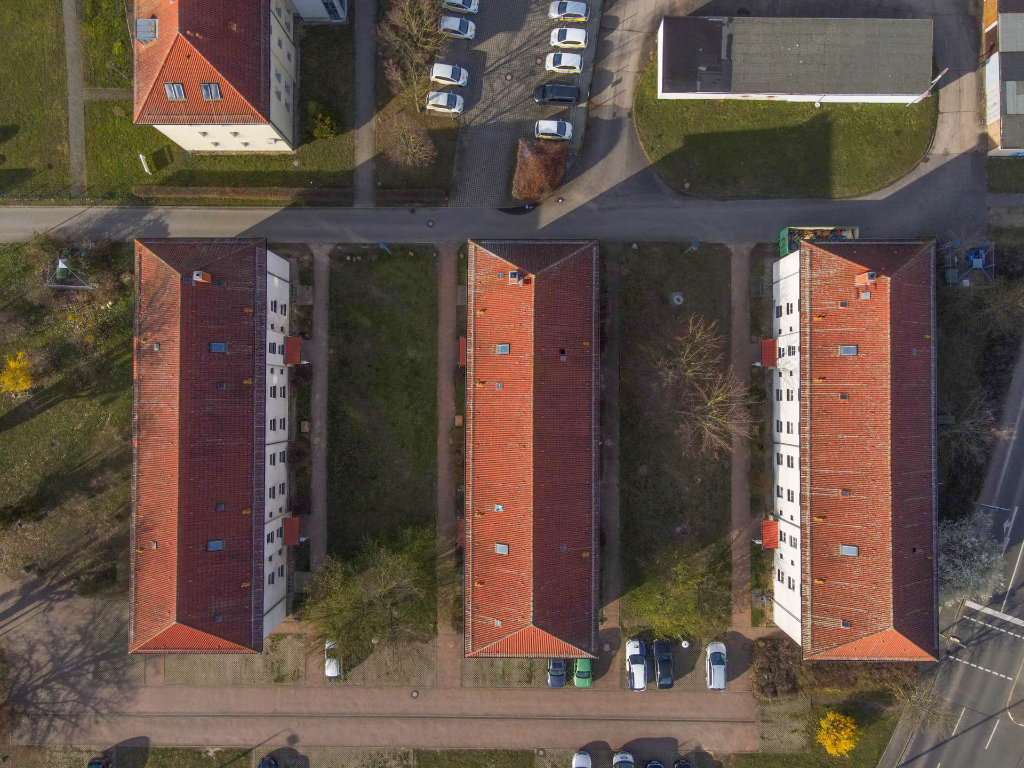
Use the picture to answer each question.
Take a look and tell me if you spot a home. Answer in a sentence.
Yes, you can see a home in this photo.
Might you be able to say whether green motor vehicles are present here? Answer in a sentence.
Yes, you can see a green motor vehicle in this photo.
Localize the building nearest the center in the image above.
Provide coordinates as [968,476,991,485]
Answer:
[457,238,601,659]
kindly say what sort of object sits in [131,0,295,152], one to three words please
building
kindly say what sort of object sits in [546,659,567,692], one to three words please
car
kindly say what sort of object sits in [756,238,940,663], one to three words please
house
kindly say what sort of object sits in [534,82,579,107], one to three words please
car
